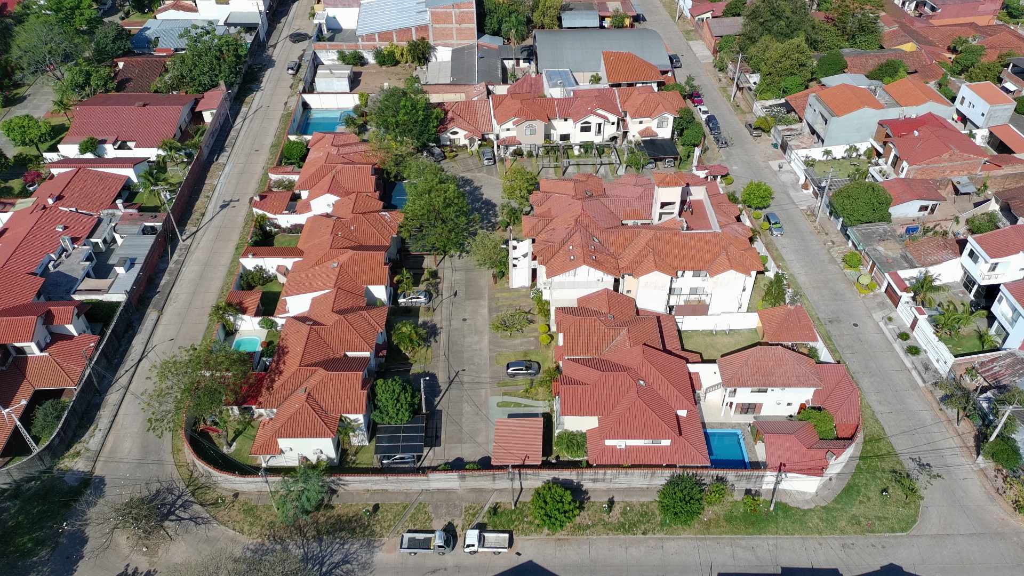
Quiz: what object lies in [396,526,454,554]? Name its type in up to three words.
truck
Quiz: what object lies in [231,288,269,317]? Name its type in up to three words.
shed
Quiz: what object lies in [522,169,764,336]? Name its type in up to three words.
building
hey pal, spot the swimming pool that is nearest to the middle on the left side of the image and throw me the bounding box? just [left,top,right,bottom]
[388,180,423,209]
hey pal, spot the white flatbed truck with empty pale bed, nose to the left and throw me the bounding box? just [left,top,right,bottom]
[459,525,515,551]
